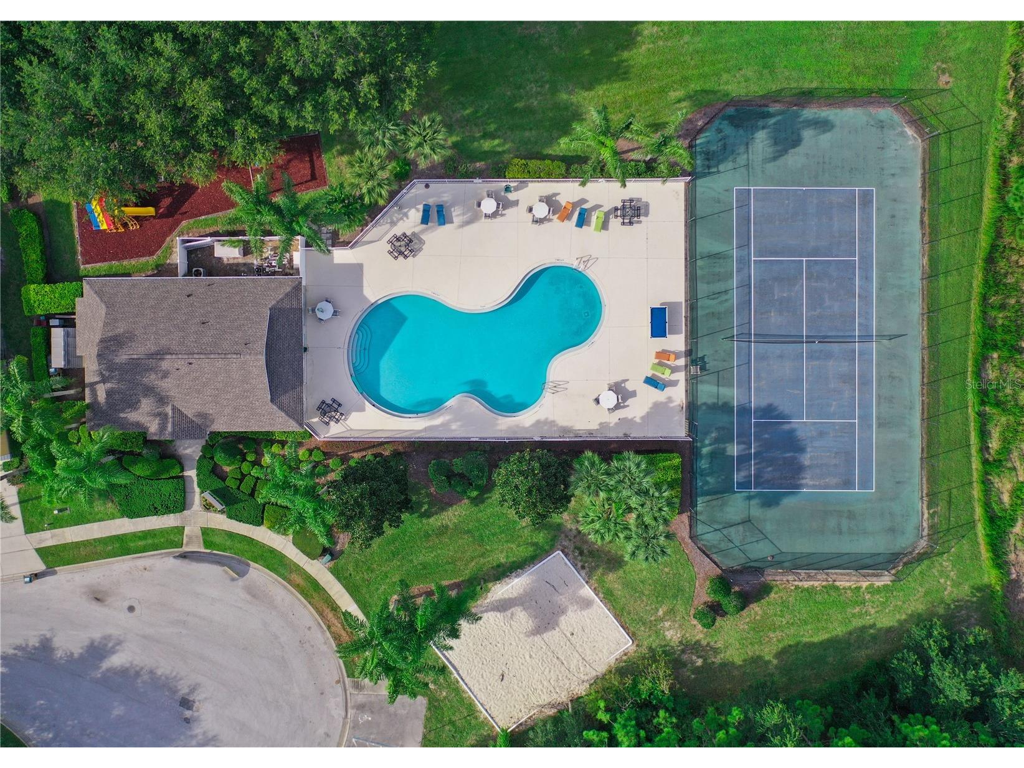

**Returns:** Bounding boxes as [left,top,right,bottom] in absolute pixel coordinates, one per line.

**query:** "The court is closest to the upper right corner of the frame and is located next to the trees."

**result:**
[695,108,921,570]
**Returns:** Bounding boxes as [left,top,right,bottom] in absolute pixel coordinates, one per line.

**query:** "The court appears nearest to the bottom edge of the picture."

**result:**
[436,551,633,731]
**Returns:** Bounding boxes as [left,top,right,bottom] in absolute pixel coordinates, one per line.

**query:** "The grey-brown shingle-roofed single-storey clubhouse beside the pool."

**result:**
[76,277,307,441]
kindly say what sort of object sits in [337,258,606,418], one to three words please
swimming pool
